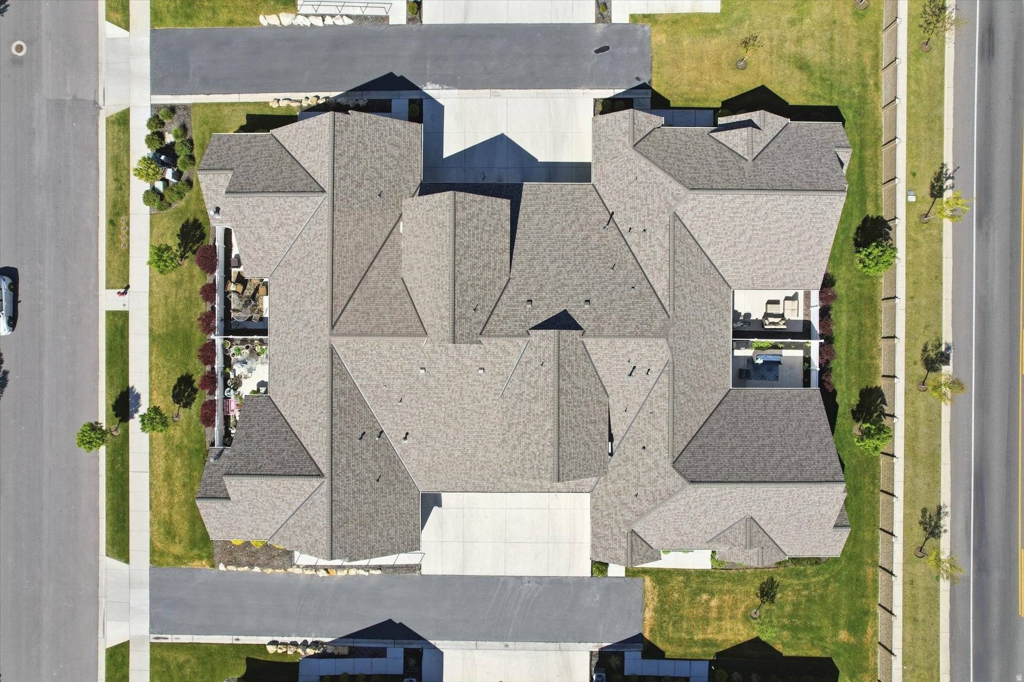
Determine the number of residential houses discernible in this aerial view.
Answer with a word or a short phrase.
1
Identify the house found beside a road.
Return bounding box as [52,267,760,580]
[197,109,852,567]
